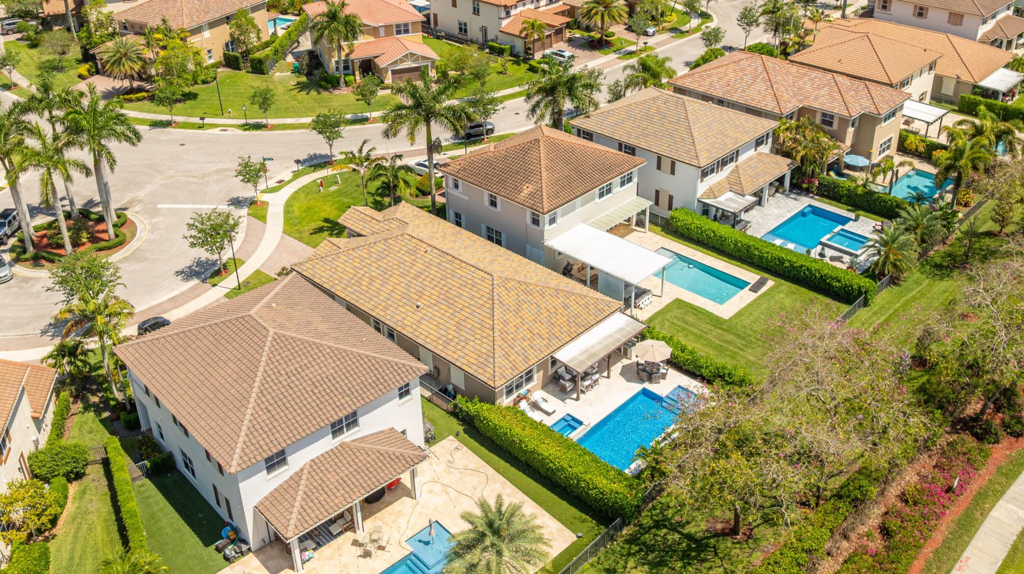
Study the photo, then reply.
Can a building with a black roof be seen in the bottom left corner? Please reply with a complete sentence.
No, looking in the bottom left corner, there is no building with a black roof.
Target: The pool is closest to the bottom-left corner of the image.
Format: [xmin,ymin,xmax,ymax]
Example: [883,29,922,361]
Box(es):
[383,521,478,574]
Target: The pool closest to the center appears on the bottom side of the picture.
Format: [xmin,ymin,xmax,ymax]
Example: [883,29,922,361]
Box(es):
[552,413,584,435]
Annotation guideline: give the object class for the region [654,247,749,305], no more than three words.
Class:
swimming pool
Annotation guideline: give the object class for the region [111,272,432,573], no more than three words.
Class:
house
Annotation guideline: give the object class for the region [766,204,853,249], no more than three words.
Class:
swimming pool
